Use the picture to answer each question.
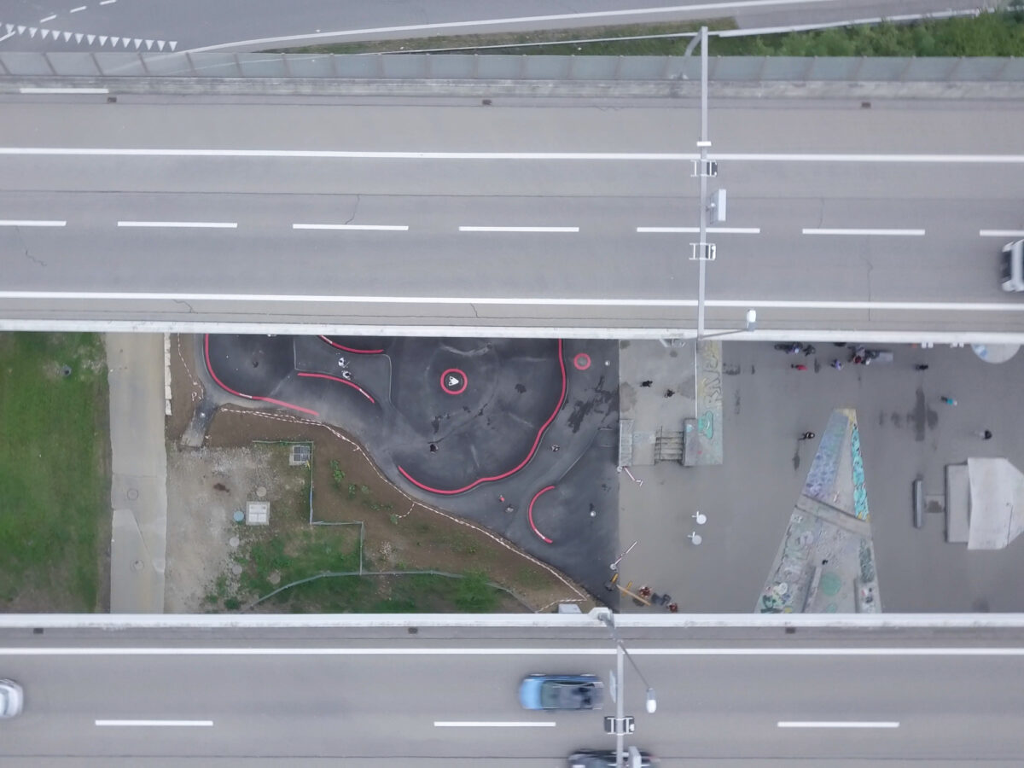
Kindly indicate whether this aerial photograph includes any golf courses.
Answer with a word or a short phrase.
No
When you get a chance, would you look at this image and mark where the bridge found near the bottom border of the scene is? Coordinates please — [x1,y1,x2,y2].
[0,613,1024,768]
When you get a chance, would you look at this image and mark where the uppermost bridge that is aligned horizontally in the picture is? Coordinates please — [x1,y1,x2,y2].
[0,77,1024,343]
